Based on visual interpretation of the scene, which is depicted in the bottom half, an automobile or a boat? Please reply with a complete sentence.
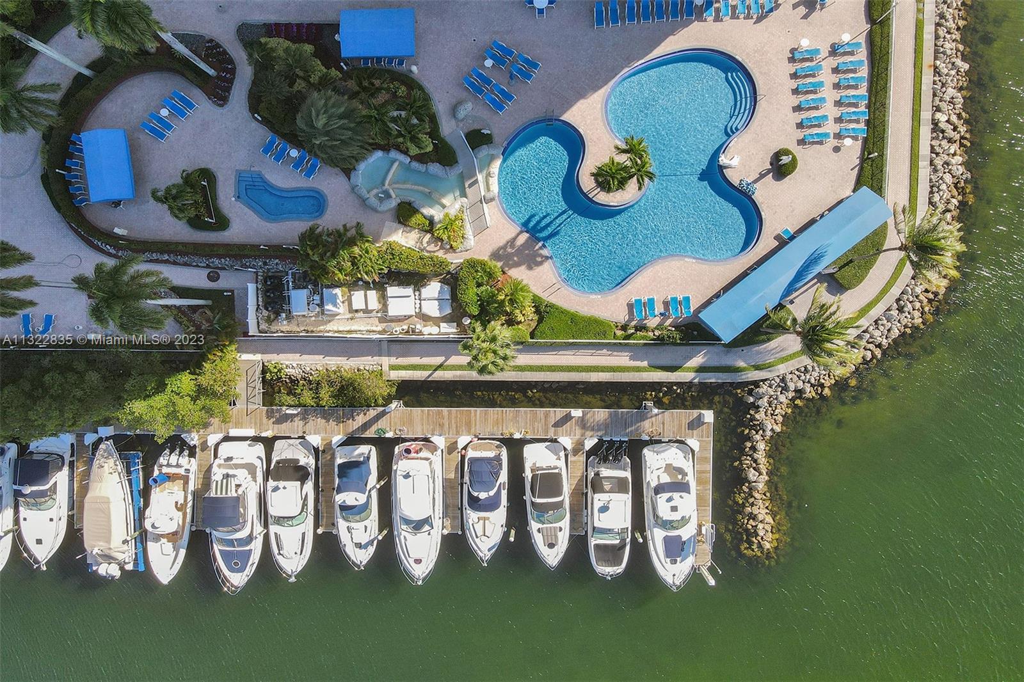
What appears in the bottom half is a boat.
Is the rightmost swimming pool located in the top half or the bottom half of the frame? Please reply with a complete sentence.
The top half of the photo is where the rightmost swimming pool is.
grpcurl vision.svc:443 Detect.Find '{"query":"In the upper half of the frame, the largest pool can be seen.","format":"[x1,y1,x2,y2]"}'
[495,44,770,299]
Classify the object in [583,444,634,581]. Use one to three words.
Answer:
boat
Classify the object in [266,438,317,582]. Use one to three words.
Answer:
boat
